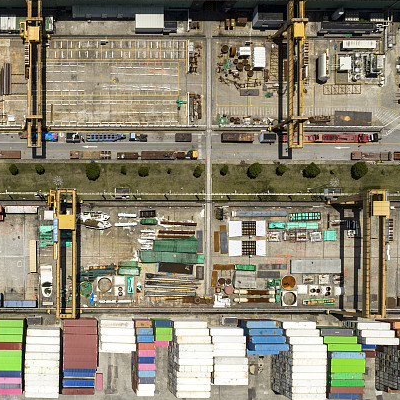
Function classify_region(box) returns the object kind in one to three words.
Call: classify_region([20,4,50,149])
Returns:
container crane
